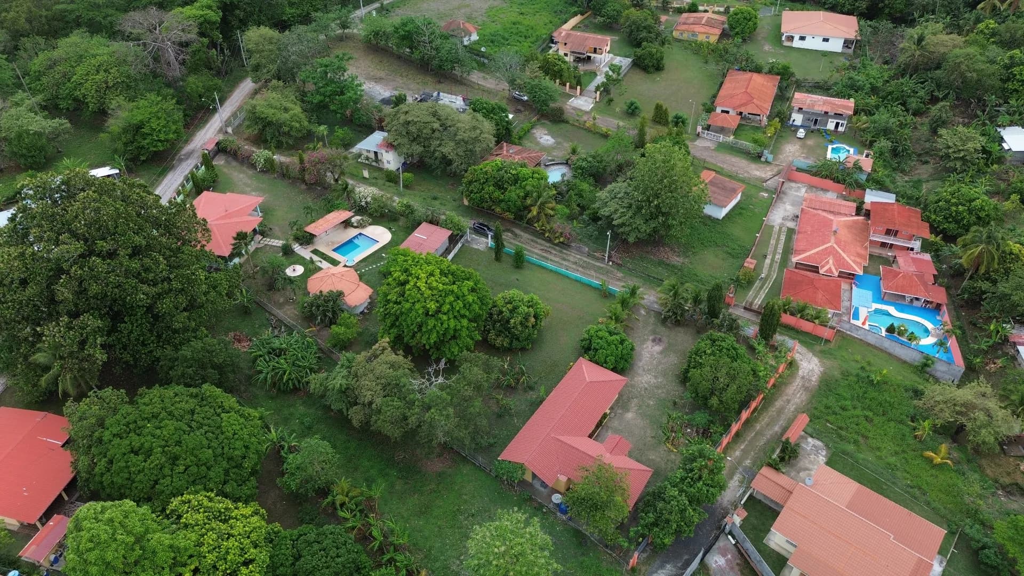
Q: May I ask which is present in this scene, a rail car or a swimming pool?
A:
swimming pool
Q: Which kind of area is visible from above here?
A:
residential area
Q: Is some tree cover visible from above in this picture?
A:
Yes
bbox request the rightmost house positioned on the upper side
[996,125,1024,161]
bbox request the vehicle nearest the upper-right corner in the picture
[795,125,808,139]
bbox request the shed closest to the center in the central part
[400,222,453,265]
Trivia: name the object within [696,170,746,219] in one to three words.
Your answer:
shed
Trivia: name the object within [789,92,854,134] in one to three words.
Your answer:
house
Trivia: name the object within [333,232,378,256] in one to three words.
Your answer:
swimming pool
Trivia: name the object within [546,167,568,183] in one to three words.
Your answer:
swimming pool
